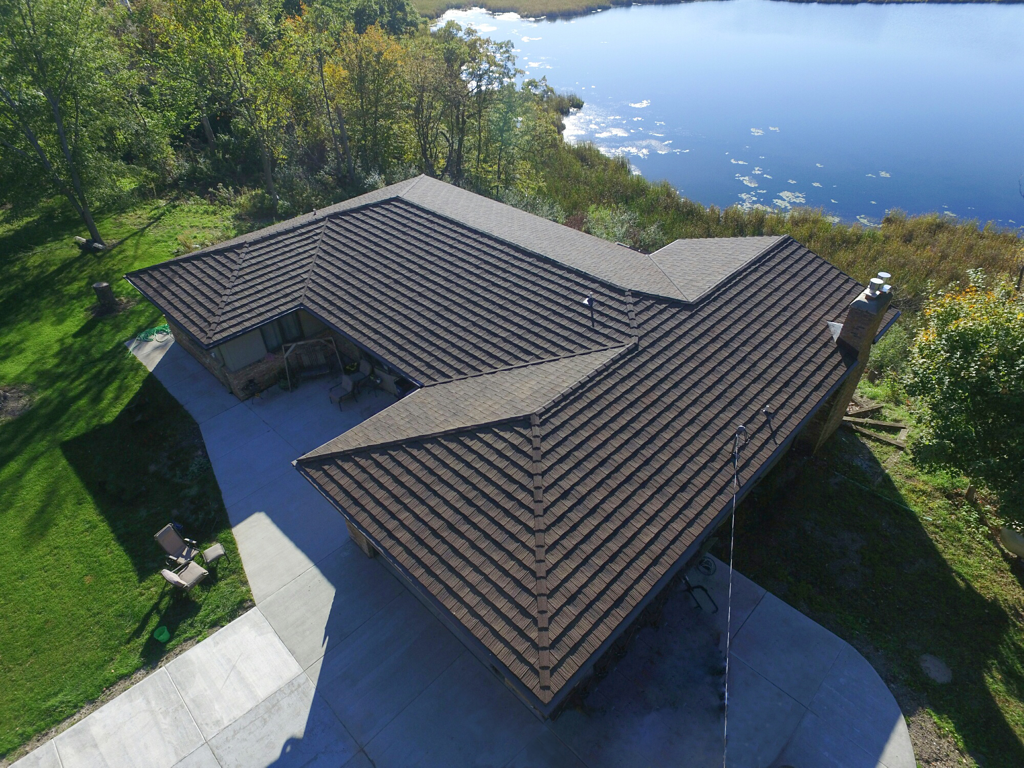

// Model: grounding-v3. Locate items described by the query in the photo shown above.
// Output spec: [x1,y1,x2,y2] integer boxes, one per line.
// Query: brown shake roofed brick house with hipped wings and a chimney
[124,173,904,727]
